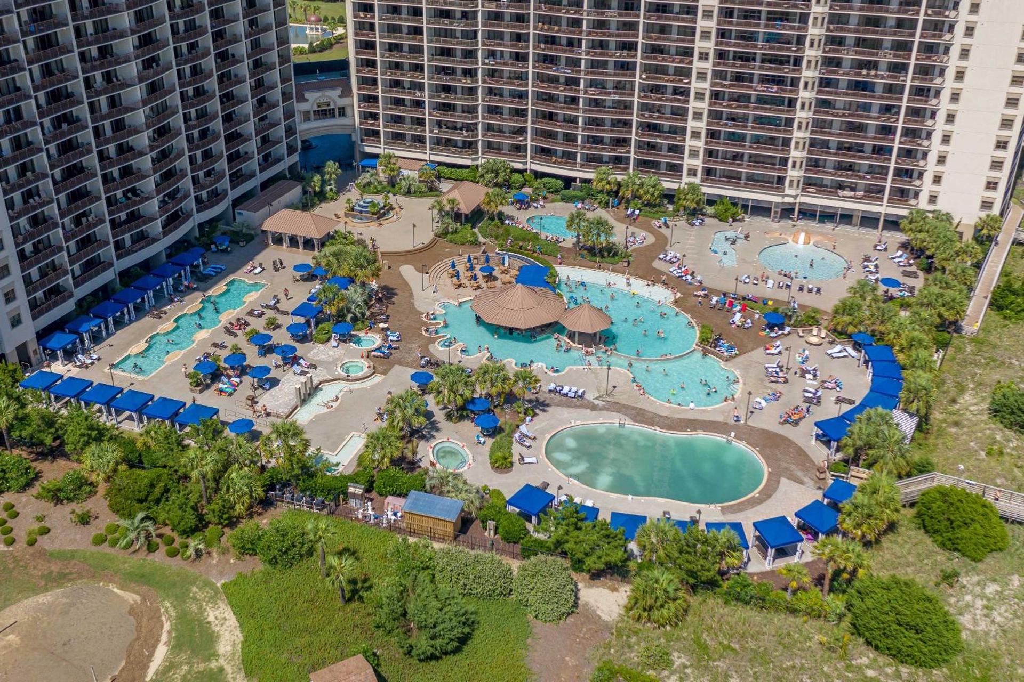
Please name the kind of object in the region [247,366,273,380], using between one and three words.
umbrella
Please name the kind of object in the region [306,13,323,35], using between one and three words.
gazebo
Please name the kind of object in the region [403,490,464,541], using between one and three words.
shed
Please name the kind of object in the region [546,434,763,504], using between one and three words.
swimming pool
